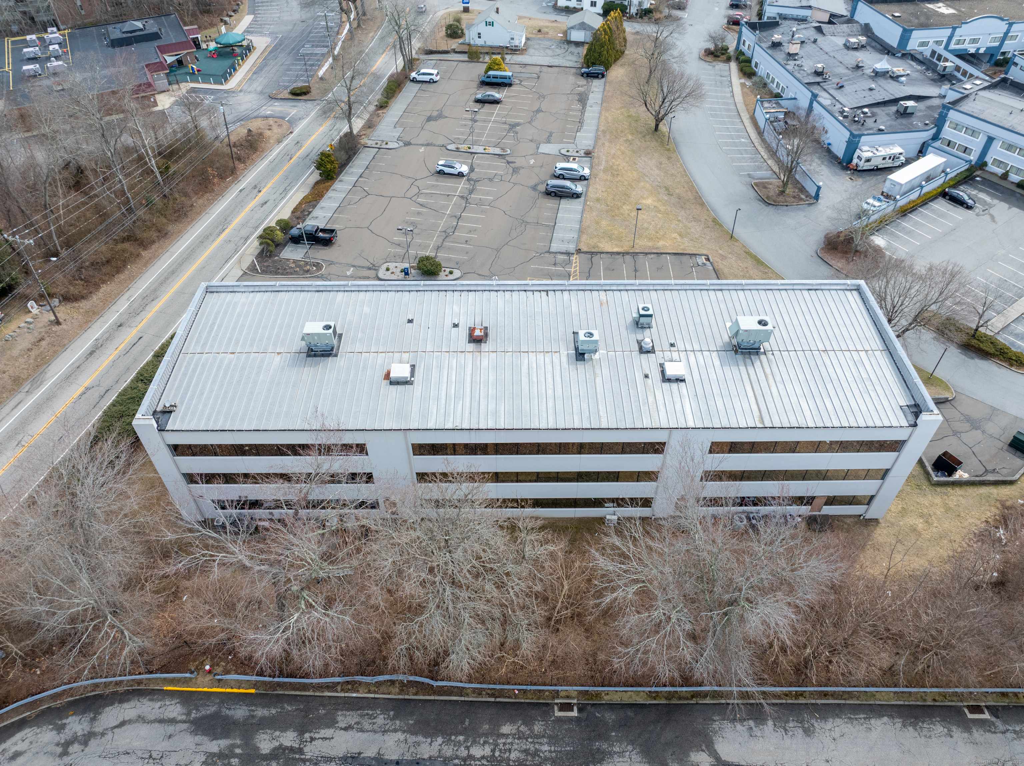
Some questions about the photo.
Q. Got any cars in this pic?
Yes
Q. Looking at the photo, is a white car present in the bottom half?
No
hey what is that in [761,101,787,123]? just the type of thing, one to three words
shed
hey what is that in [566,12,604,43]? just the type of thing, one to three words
building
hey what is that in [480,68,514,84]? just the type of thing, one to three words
vehicle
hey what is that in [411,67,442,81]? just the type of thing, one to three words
car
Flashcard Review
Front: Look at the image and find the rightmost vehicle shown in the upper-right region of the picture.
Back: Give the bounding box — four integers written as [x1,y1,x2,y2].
[942,186,982,207]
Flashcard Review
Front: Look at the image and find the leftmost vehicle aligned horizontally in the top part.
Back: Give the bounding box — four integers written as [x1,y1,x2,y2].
[288,222,340,243]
